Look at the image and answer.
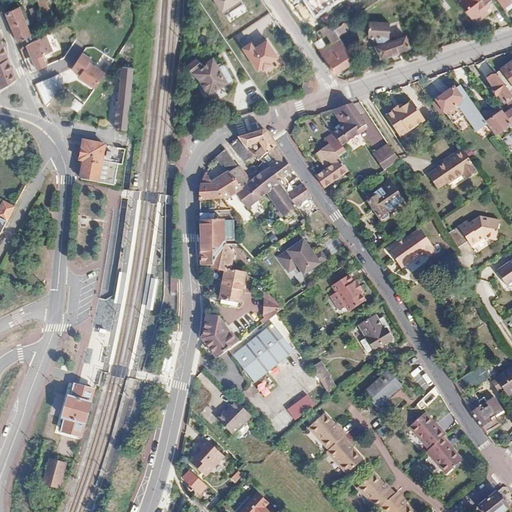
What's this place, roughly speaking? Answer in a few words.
residential area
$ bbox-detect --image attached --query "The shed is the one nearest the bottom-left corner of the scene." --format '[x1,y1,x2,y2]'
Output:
[45,458,67,489]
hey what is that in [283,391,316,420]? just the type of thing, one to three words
building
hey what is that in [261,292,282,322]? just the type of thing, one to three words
house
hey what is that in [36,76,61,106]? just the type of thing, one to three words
shed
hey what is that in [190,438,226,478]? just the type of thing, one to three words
house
